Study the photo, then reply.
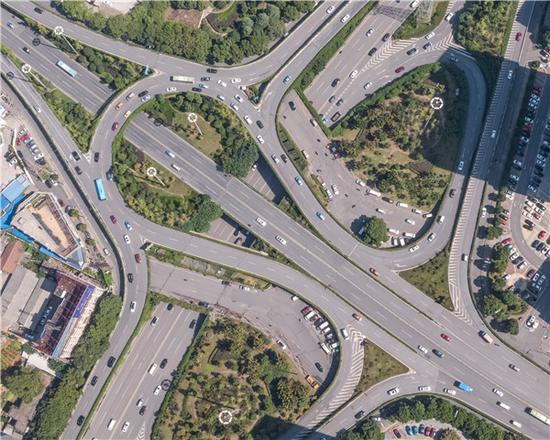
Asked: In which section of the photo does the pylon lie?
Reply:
top right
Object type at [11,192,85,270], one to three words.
building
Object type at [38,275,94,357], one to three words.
building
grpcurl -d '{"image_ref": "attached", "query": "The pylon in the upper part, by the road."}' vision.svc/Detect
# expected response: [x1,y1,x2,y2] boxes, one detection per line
[416,0,440,29]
